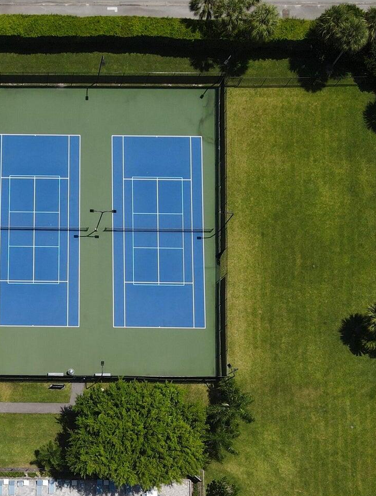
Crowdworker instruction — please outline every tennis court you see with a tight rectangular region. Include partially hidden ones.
[0,86,97,378]
[96,86,220,378]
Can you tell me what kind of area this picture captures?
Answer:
sports ground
